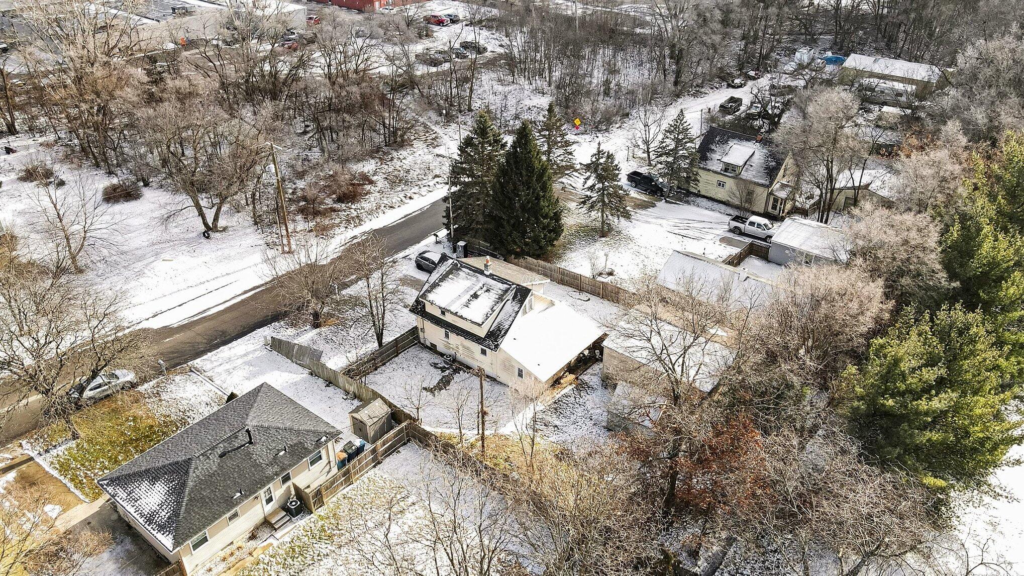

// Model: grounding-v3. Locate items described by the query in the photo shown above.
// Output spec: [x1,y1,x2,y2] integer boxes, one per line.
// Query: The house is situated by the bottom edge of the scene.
[95,379,345,576]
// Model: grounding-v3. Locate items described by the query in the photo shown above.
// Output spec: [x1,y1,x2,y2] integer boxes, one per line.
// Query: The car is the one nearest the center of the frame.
[411,245,443,270]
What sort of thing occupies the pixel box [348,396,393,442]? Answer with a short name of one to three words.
shed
